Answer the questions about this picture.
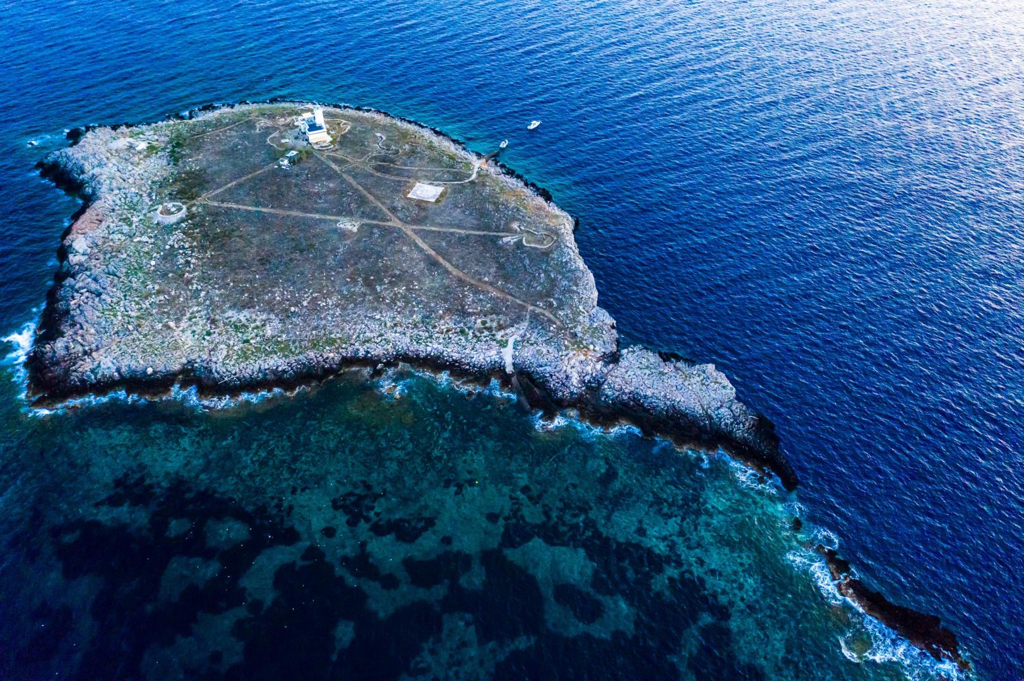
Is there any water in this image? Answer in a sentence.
Yes, water shows up in the scene.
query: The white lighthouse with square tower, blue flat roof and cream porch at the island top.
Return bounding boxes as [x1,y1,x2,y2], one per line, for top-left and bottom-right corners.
[291,106,338,146]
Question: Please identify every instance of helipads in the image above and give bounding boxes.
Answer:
[407,183,444,202]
